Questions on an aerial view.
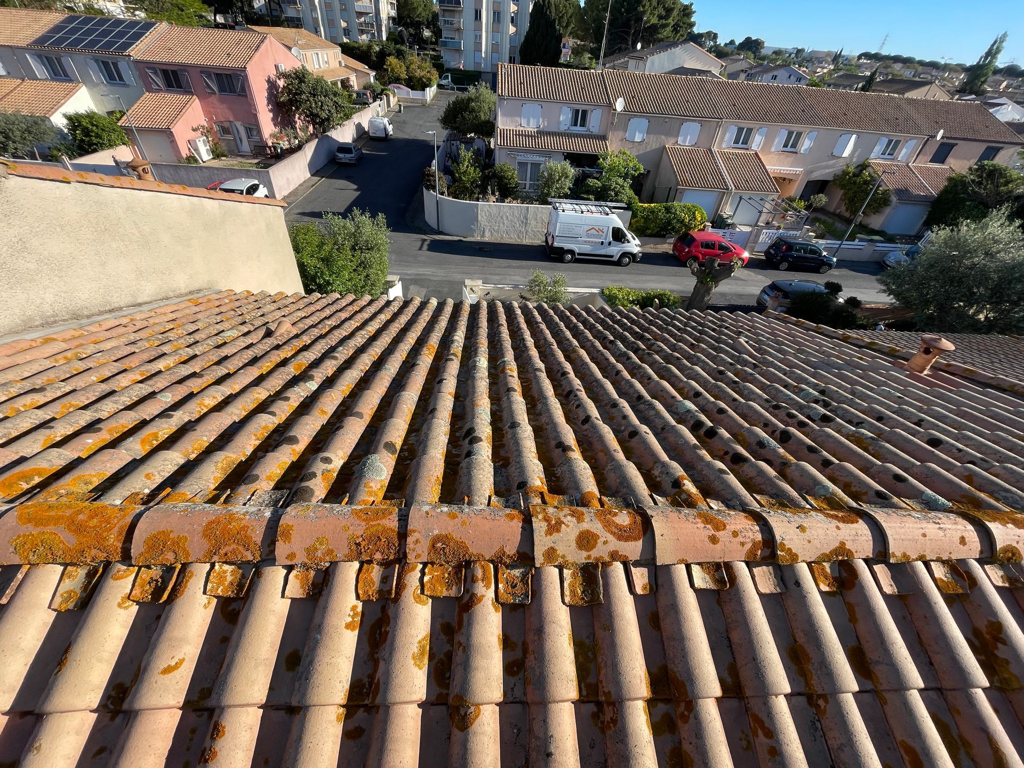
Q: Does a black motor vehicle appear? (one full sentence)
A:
Yes, there's a black motor vehicle here.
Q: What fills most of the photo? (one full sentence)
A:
The largest share of the image is taken up by buildings.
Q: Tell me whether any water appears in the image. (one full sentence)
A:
No, there's no water in this view.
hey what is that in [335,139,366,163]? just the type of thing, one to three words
car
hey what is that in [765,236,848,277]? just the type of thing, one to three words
car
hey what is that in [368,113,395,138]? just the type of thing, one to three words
vehicle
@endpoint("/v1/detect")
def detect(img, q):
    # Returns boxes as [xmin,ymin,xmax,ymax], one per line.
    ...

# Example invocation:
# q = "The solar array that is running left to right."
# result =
[31,13,158,51]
